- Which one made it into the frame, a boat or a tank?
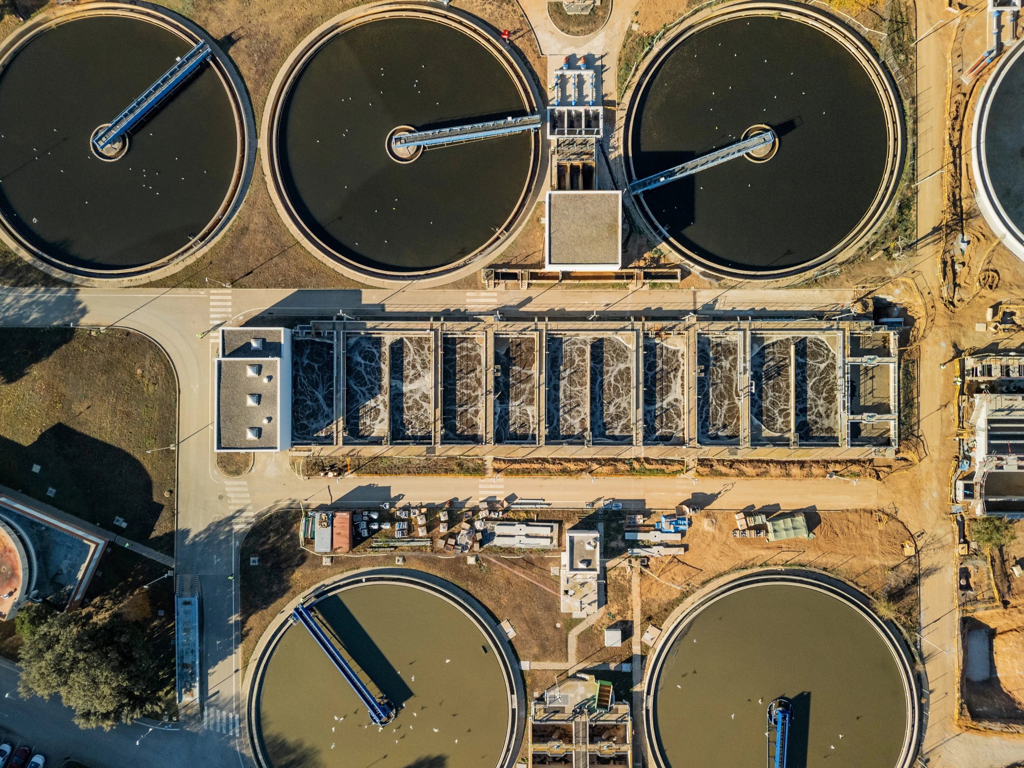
tank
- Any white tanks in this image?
Yes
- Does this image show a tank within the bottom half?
Yes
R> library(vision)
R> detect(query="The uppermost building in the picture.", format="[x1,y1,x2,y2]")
[540,191,622,271]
